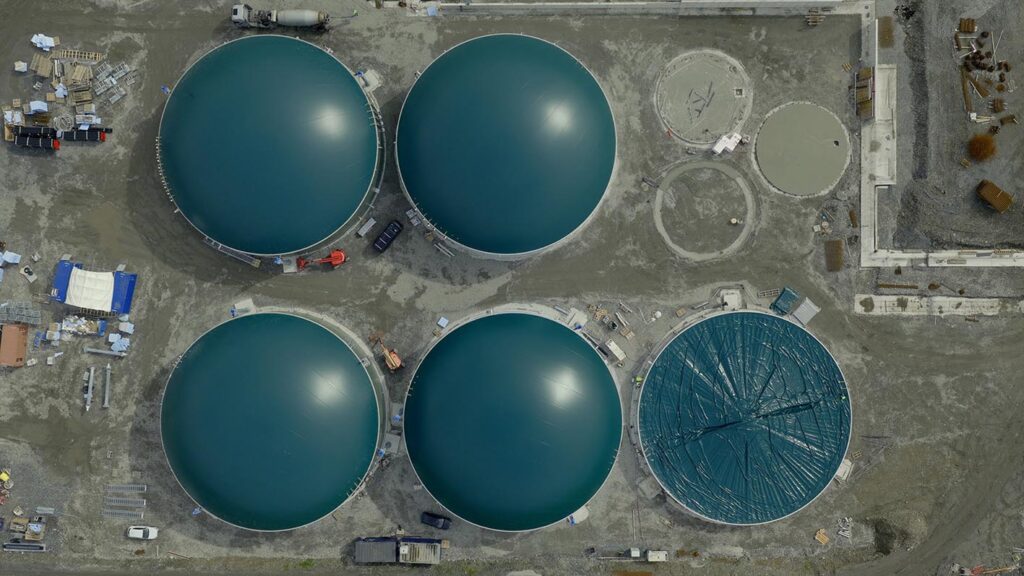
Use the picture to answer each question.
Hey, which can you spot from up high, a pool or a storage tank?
storage tank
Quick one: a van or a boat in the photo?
van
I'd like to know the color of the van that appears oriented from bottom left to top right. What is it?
black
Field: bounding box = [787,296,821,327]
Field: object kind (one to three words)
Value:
shed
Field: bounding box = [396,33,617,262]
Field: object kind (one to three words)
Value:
storage tank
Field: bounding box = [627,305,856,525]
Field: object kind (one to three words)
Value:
storage tank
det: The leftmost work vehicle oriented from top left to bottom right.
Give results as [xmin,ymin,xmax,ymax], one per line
[368,325,410,374]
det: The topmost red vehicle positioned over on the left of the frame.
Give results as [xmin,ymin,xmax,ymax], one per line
[301,251,348,267]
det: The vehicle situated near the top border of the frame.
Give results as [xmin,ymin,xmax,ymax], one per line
[233,5,337,32]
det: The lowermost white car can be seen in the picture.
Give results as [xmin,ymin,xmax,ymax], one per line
[128,524,159,541]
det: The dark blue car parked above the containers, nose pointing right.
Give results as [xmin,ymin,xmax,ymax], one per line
[420,511,452,530]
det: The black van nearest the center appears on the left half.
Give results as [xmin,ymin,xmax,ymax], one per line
[373,218,406,252]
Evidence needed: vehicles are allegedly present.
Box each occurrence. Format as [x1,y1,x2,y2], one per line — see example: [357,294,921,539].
[420,511,452,530]
[373,218,406,252]
[233,5,337,32]
[128,524,159,541]
[368,325,410,374]
[301,251,348,267]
